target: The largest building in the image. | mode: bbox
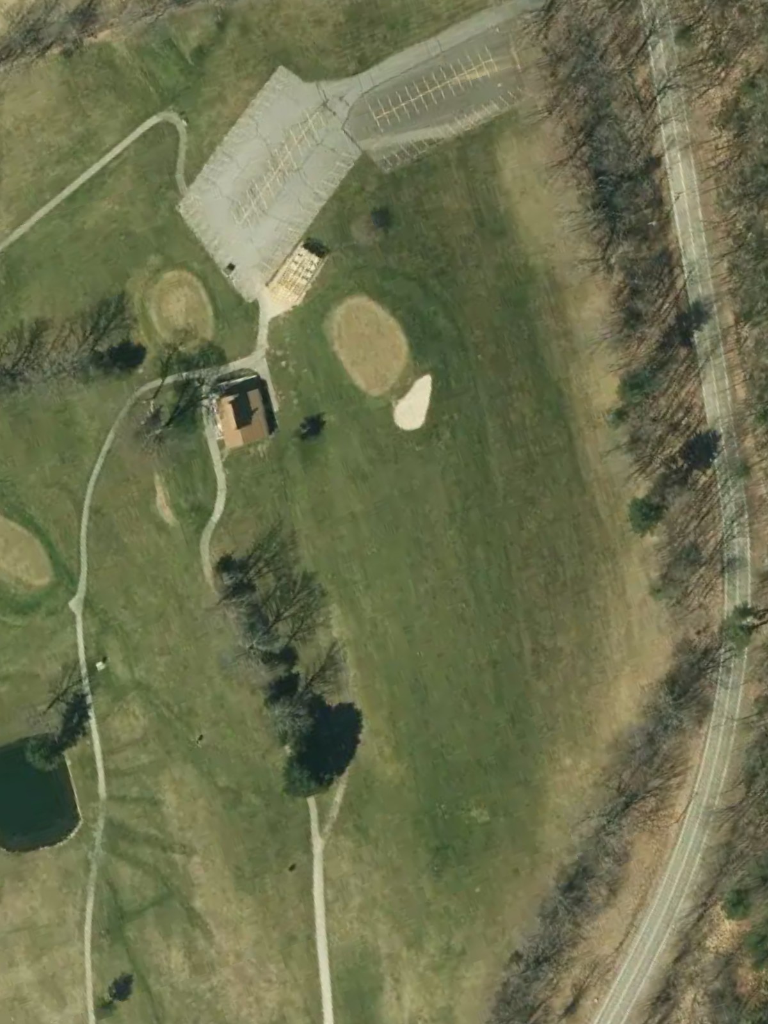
[217,385,271,447]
